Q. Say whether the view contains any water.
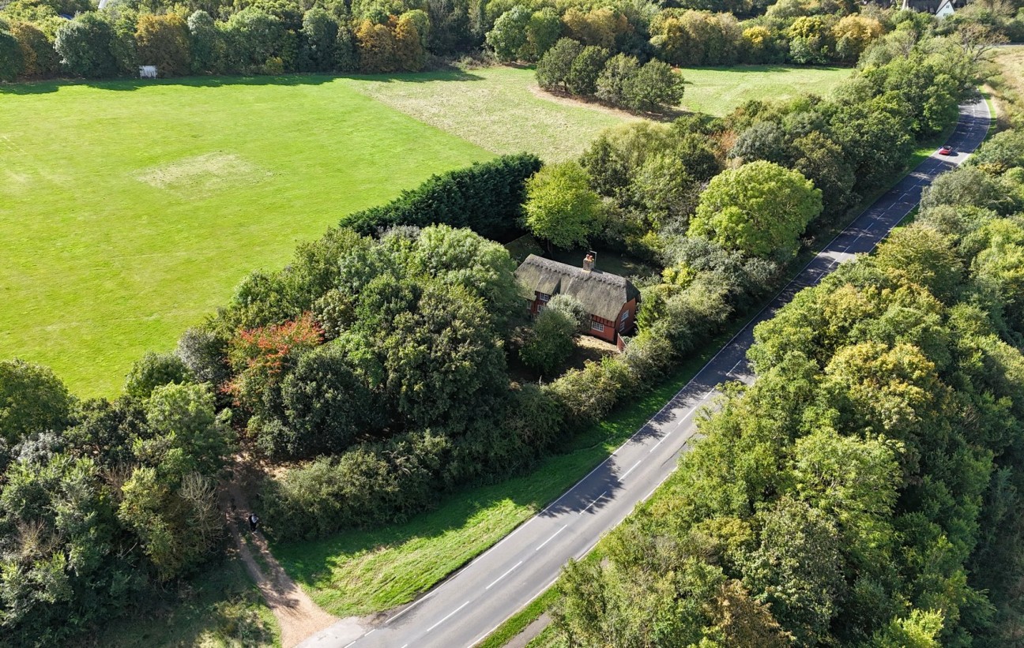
No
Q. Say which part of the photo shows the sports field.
left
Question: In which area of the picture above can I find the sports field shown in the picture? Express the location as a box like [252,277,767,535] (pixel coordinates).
[0,76,498,442]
